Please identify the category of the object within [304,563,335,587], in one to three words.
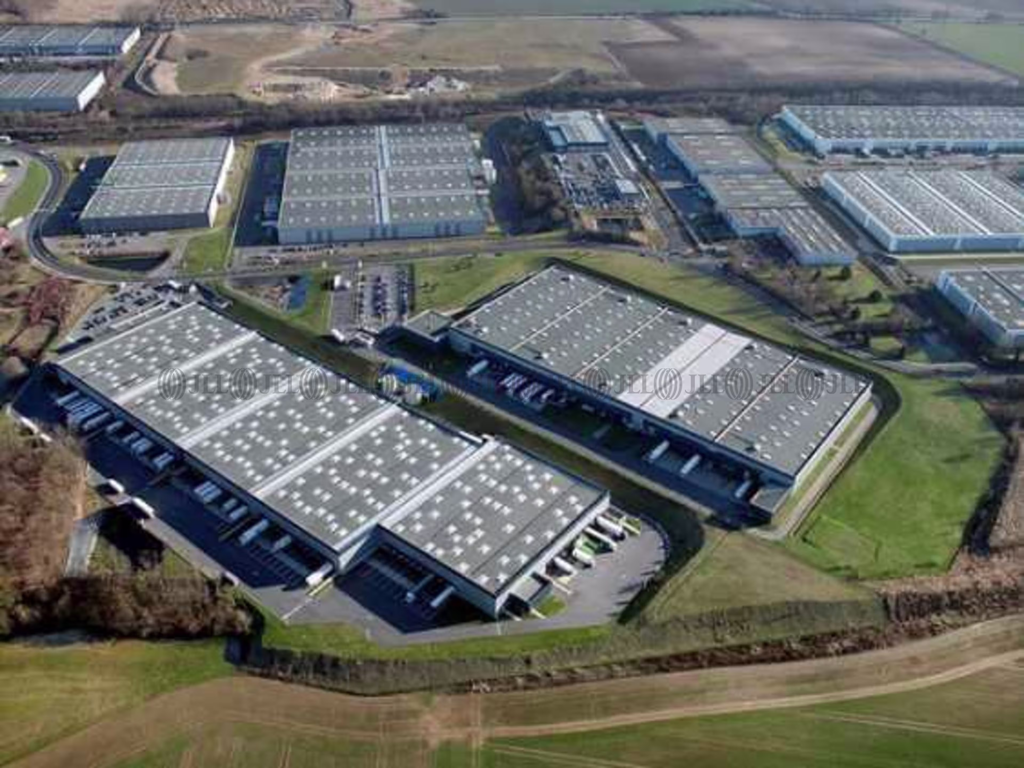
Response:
truck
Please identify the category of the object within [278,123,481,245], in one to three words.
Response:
warehouse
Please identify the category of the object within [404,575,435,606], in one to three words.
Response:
truck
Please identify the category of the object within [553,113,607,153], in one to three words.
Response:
building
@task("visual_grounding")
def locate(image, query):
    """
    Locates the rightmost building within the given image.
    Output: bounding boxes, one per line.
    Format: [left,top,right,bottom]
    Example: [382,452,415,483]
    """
[942,269,1024,352]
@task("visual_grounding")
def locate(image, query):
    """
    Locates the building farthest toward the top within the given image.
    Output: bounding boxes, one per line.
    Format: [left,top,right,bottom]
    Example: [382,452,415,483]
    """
[0,25,141,58]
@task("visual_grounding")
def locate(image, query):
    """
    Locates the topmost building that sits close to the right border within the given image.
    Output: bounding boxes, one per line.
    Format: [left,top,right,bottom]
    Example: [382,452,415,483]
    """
[785,106,1024,153]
